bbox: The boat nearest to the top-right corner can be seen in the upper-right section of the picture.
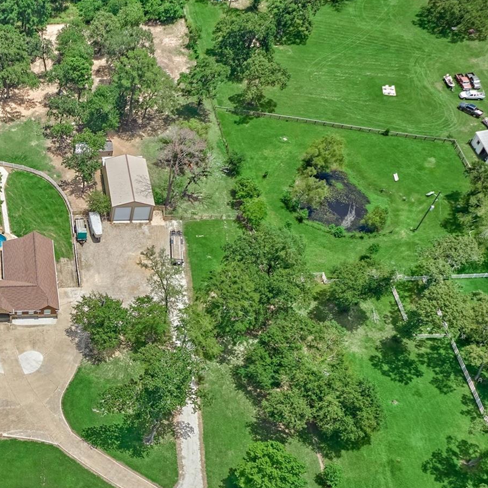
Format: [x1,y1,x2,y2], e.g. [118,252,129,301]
[444,69,458,91]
